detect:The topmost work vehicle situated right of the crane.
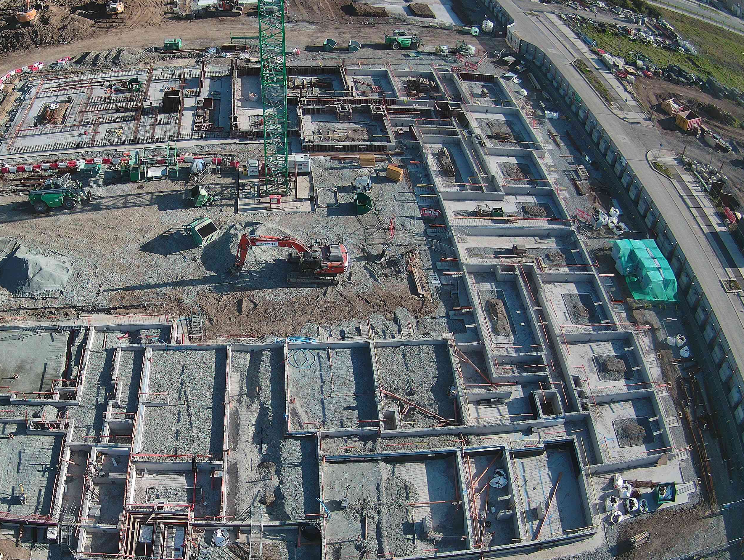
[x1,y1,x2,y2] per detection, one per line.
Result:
[389,29,432,51]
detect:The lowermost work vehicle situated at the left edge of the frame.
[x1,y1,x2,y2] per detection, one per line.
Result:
[23,172,99,216]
